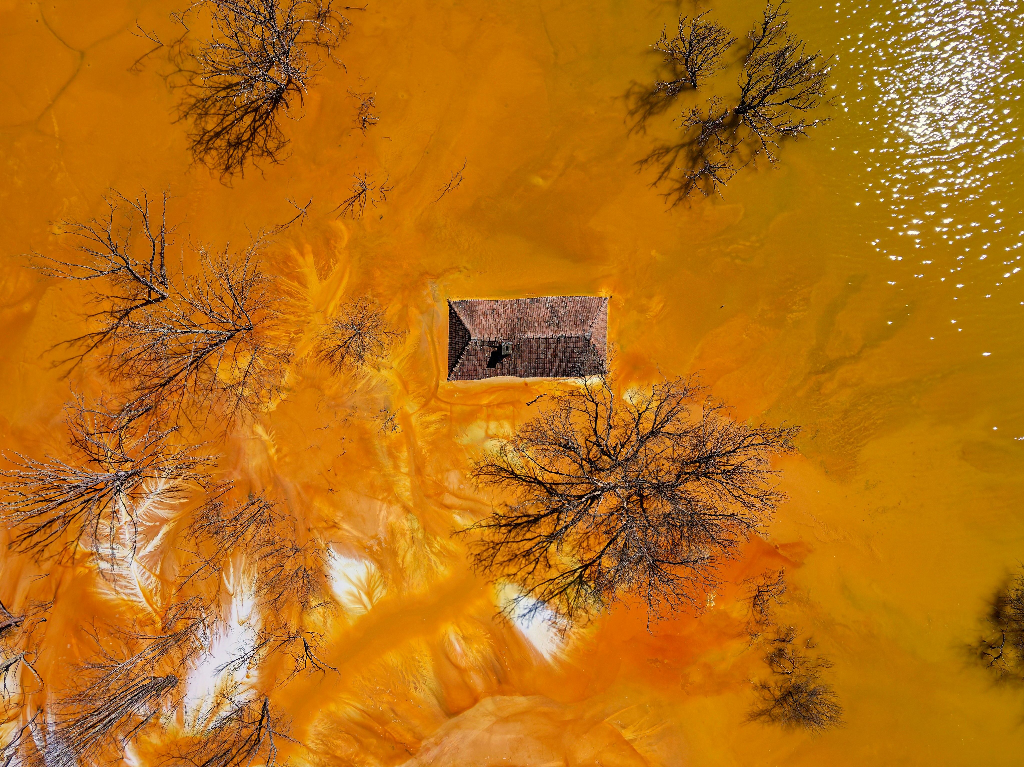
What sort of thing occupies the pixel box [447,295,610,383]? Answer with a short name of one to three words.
house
